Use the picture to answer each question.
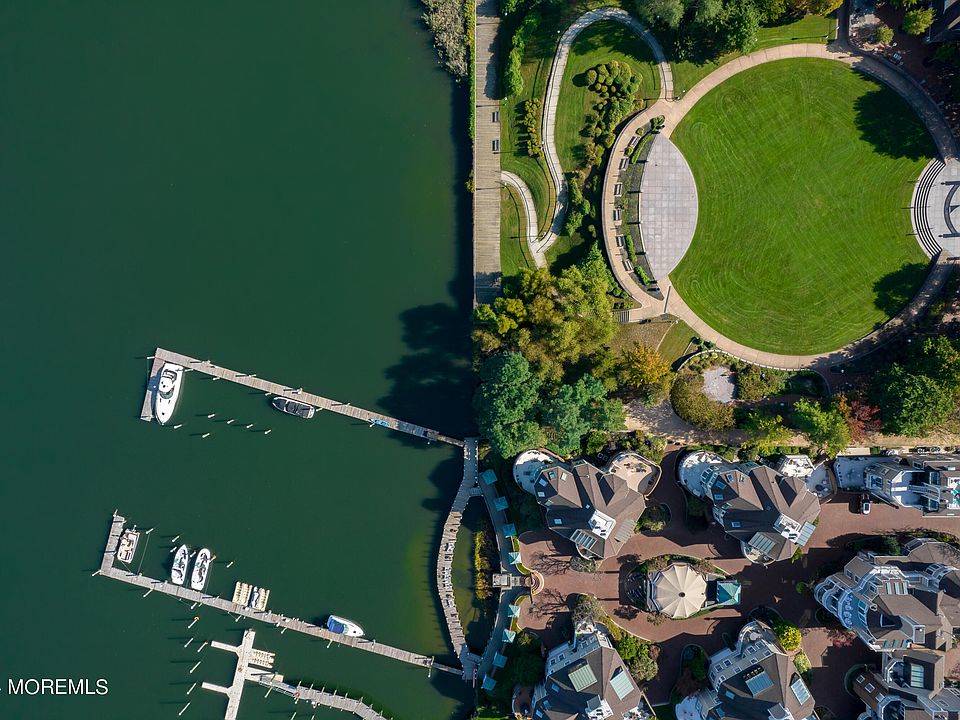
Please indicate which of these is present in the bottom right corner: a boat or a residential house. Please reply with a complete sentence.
It is a residential house that can be seen in the bottom right corner.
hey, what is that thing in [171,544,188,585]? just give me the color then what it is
white boat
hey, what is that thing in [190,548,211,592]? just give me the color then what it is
white boat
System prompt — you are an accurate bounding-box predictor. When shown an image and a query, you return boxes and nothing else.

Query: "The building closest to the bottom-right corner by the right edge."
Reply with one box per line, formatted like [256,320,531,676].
[844,640,960,720]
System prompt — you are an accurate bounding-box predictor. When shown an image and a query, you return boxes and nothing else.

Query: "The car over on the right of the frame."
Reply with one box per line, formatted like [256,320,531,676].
[860,492,872,512]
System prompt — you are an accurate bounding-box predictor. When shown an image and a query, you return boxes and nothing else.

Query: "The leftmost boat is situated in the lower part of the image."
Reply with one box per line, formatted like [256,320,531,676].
[117,527,141,562]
